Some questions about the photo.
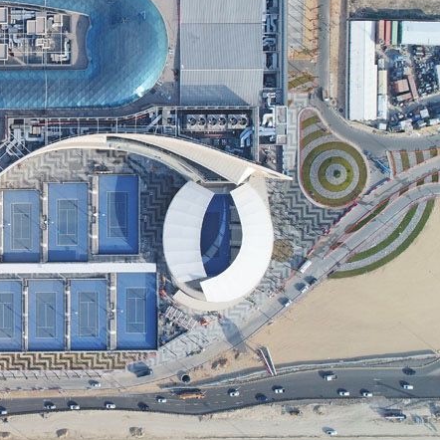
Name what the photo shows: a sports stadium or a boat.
sports stadium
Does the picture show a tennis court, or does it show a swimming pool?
tennis court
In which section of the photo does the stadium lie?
center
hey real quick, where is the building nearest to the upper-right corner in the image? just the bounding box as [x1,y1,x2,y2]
[398,21,440,45]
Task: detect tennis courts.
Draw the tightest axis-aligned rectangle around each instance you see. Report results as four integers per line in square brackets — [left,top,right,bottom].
[44,181,89,262]
[66,278,110,353]
[114,271,160,353]
[95,173,141,255]
[0,189,41,262]
[24,278,67,353]
[0,278,24,352]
